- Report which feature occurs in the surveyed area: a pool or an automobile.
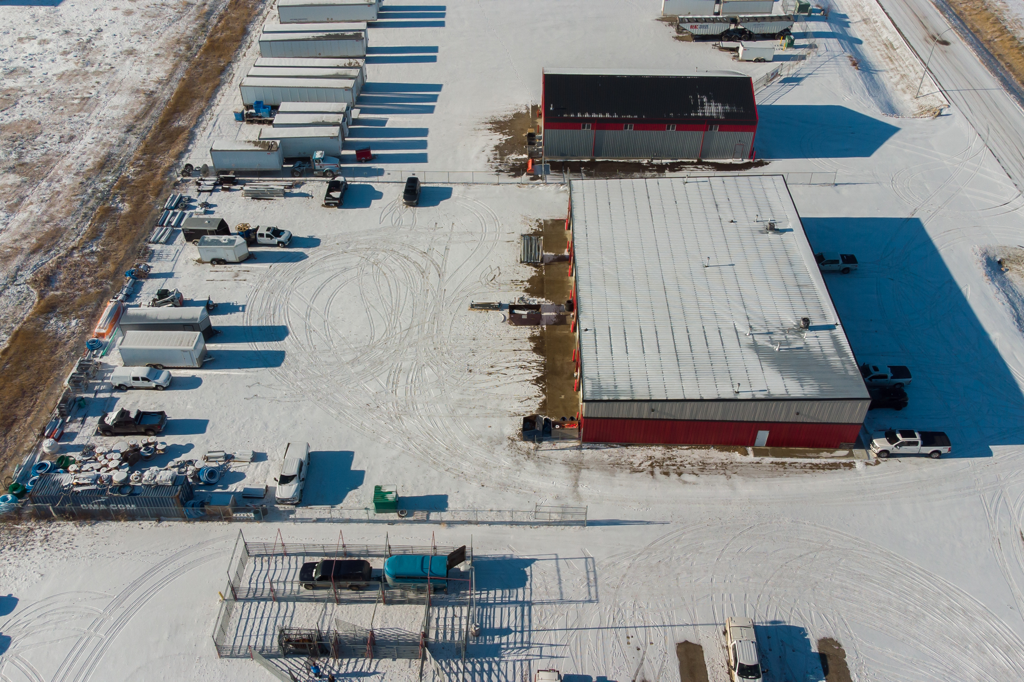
automobile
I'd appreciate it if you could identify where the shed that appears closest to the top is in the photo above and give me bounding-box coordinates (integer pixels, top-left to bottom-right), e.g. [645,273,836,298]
[540,68,759,162]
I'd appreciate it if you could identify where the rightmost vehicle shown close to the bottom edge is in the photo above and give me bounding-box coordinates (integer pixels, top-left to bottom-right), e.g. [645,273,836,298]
[730,615,773,682]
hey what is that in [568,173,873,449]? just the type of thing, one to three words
building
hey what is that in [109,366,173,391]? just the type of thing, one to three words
truck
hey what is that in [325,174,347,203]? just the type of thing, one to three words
truck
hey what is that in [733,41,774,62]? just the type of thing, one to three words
trailer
